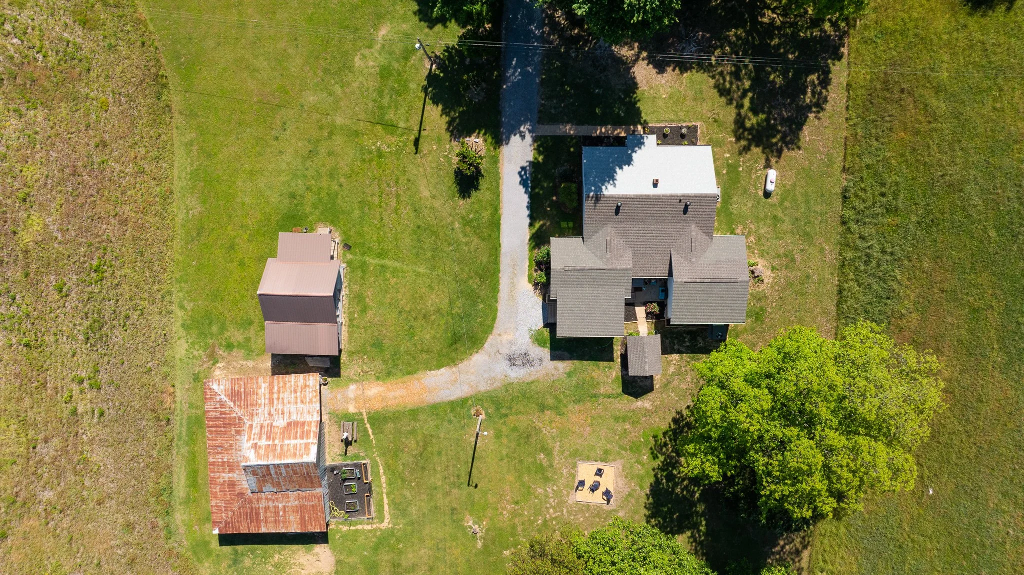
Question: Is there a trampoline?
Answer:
No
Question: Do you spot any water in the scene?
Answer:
No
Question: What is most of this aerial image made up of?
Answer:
grass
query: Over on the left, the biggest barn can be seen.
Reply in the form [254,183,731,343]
[203,373,330,534]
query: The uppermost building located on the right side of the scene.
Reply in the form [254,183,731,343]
[550,134,749,337]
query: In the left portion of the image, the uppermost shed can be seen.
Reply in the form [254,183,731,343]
[257,232,348,356]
